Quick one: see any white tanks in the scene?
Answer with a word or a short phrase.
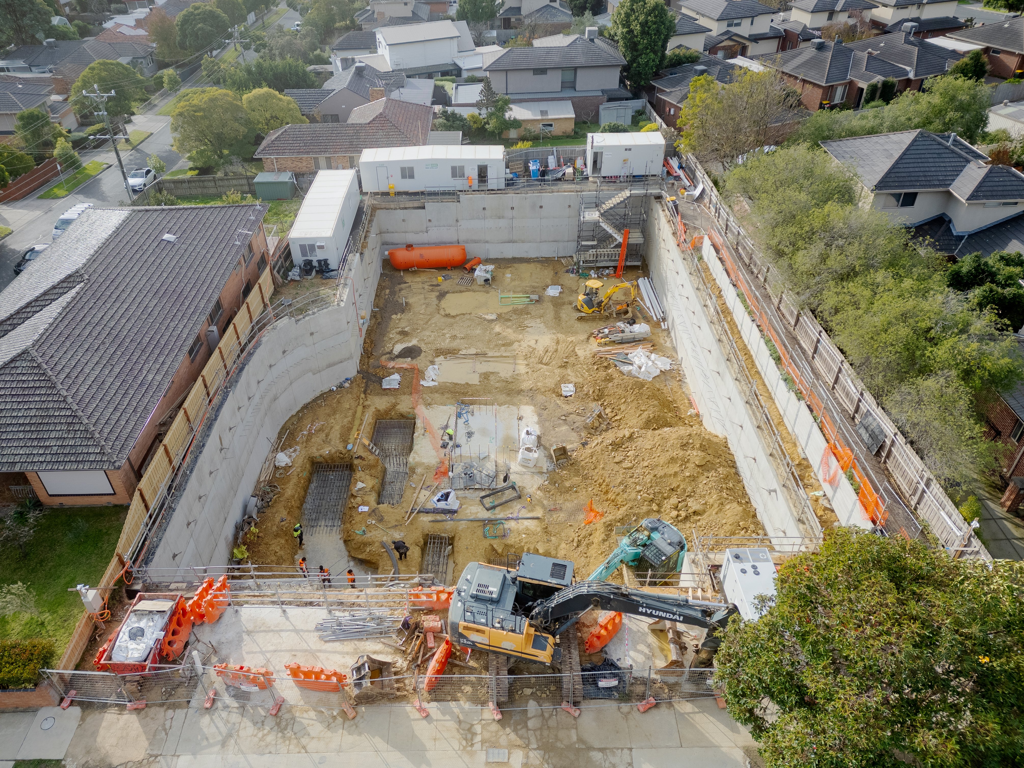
No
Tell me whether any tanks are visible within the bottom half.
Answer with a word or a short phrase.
No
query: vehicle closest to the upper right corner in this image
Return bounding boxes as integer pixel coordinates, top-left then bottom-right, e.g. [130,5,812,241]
[569,280,637,321]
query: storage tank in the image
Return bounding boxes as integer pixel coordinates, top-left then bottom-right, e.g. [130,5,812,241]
[388,242,466,276]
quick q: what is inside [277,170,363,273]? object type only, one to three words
shed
